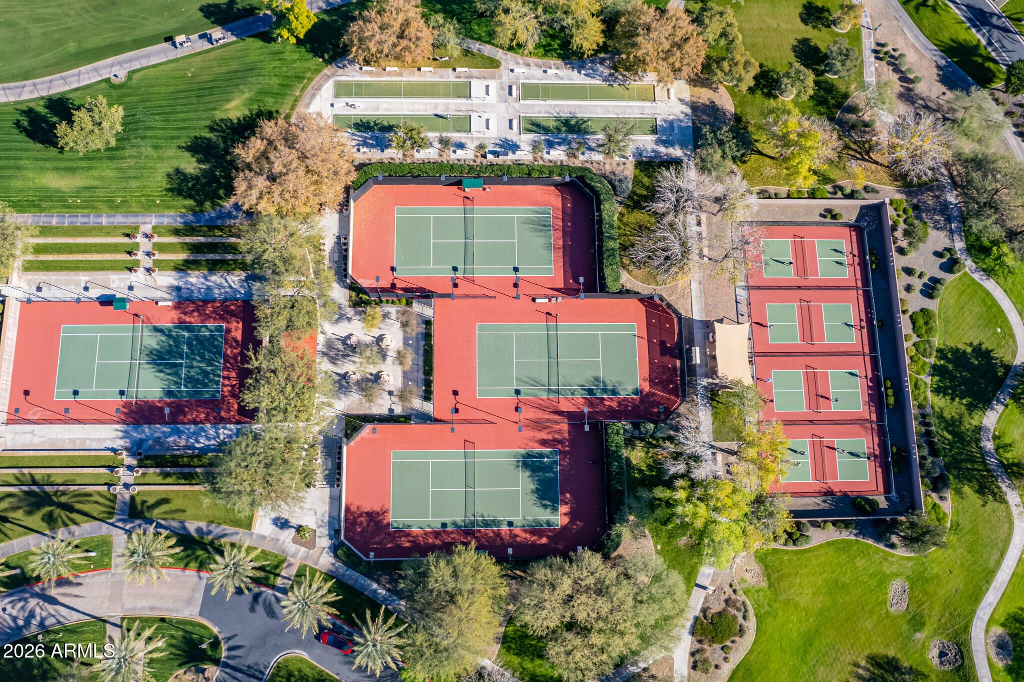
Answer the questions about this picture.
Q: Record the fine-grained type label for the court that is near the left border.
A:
tennis court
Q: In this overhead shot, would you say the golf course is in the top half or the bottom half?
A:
top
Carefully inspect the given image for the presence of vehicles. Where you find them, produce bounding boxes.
[320,630,354,659]
[176,34,193,51]
[211,30,228,47]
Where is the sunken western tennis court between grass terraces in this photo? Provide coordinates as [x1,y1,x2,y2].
[5,300,261,424]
